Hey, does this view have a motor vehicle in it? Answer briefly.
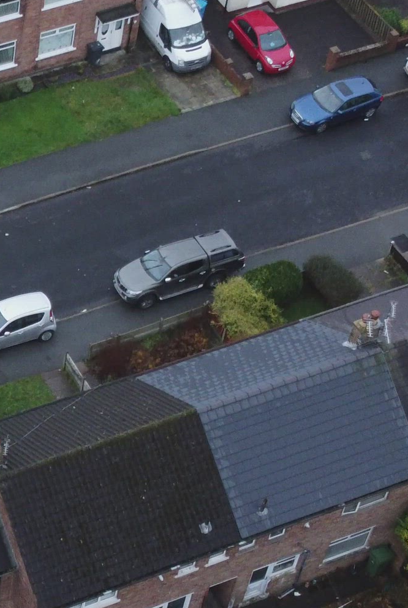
Yes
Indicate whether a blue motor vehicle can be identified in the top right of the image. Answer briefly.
Yes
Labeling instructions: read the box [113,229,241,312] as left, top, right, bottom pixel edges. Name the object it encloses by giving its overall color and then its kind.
gray truck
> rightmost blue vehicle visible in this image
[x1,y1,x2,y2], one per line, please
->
[288,73,385,134]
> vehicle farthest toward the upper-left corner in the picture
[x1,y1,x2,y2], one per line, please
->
[138,0,211,77]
